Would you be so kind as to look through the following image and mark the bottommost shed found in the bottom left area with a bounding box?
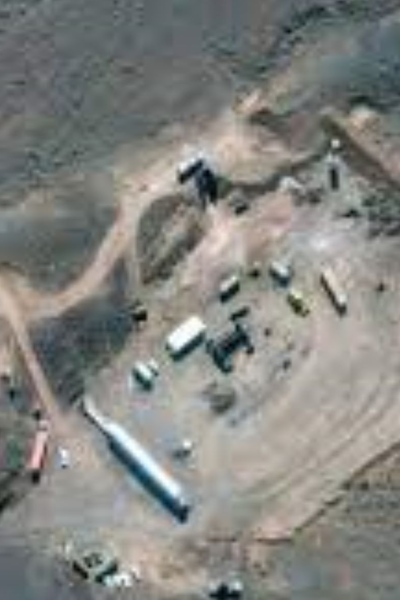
[75,544,114,583]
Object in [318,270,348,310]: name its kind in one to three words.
truck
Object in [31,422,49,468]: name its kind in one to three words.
vehicle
